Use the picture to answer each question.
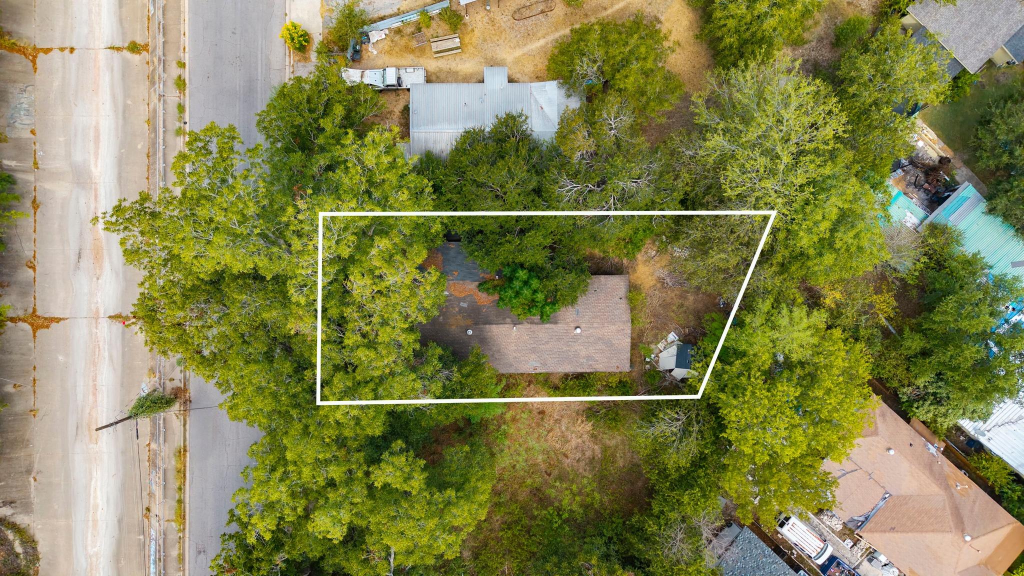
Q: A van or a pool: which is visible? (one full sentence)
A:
The one in the frame is a van.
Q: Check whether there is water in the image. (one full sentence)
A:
No, the picture contains no water.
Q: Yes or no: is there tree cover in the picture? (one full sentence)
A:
Yes, the picture does contain tree cover.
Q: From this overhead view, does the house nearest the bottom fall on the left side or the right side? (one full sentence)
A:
The house nearest the bottom sits on the right side.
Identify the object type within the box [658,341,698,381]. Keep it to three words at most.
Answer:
shed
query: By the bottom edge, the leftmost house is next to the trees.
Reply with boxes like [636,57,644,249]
[703,523,794,576]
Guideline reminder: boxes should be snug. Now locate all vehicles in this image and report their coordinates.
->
[821,546,867,576]
[342,64,429,90]
[774,511,833,567]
